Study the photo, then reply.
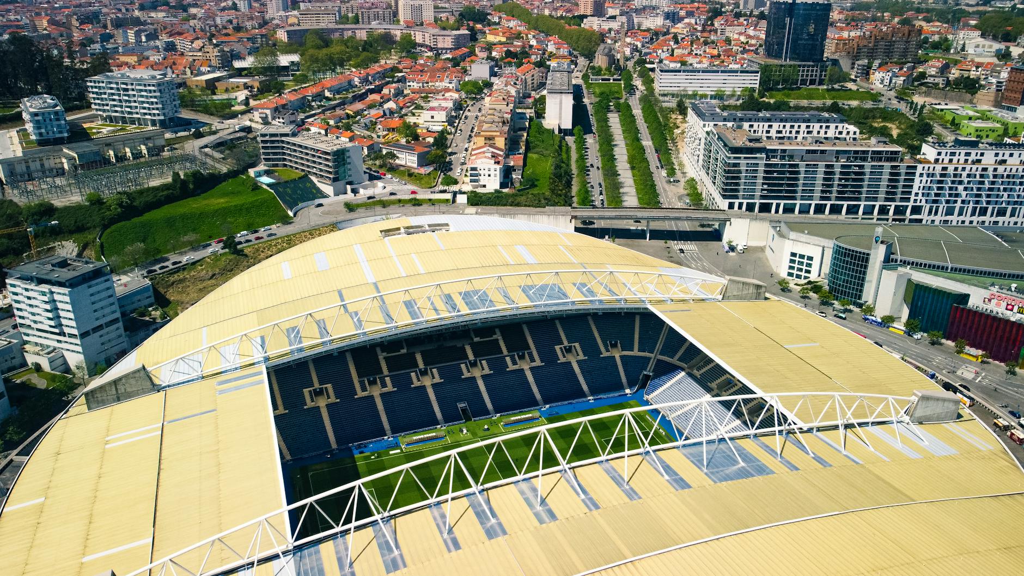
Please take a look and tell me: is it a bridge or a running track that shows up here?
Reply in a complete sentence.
Visible in the photo is a bridge.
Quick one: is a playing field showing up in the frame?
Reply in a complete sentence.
Yes, you can see a playing field in this photo.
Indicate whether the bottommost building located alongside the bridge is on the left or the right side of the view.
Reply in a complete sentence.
The bottommost building located alongside the bridge sits on the right side.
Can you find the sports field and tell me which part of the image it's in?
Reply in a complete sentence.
The sports field is located in the bottom region of the scene.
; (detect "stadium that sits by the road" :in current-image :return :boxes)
[0,213,1024,576]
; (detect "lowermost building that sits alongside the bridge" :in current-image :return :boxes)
[766,215,1024,374]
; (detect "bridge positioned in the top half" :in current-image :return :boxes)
[572,207,729,239]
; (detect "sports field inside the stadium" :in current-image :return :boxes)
[288,400,674,534]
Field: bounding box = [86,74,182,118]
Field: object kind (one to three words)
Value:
building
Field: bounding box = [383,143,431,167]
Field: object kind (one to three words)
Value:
building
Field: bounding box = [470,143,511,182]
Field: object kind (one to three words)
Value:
house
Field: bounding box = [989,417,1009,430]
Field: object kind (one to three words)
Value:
vehicle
